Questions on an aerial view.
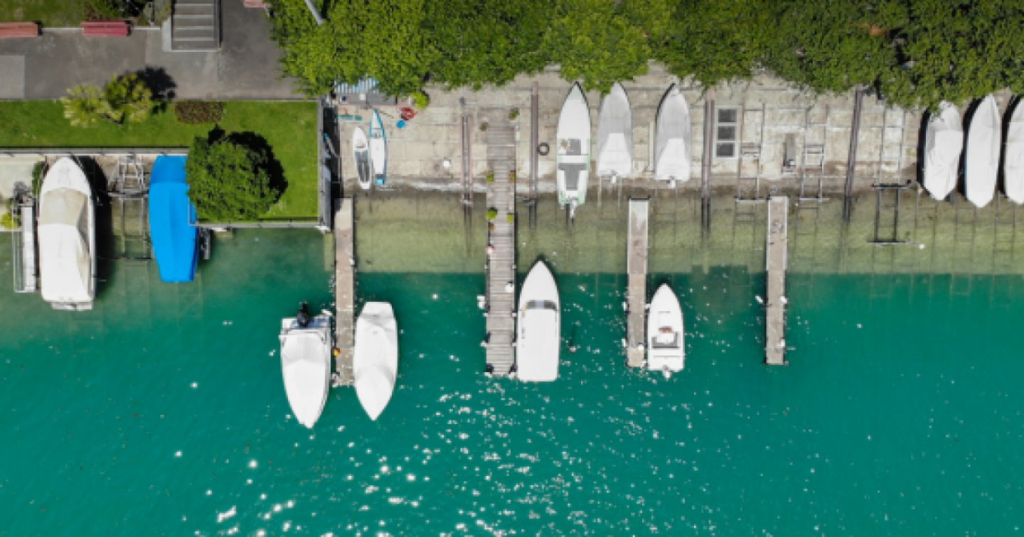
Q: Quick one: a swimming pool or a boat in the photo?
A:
boat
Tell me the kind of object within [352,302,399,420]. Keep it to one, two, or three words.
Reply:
boat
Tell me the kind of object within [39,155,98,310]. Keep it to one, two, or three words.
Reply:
boat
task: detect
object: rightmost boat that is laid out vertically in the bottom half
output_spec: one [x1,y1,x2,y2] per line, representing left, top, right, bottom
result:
[647,283,685,380]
